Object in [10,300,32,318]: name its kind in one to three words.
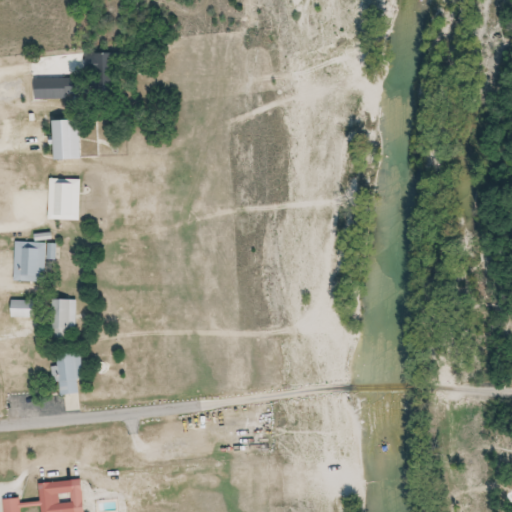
shed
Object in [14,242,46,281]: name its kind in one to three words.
house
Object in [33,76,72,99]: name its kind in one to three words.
building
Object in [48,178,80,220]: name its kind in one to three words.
barn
